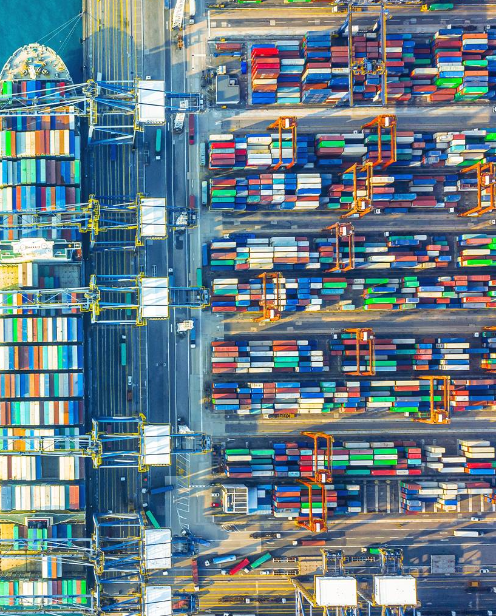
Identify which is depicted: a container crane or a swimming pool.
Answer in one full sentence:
I can see a container crane in this picture.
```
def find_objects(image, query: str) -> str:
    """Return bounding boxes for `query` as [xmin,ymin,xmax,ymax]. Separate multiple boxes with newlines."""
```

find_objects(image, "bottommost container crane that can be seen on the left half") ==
[0,561,215,616]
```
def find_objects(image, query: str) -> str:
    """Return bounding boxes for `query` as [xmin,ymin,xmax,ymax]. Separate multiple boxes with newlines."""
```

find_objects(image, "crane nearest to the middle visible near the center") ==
[251,271,282,325]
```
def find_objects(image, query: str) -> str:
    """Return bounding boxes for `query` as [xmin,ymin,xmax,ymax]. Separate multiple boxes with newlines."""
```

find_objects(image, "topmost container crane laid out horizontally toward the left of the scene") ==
[0,77,208,162]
